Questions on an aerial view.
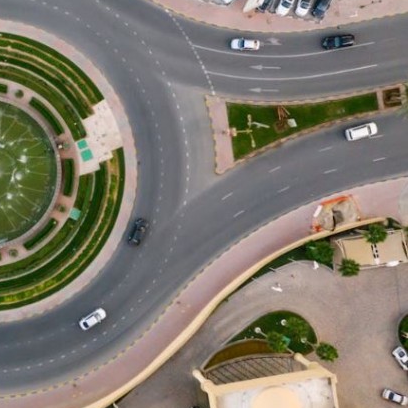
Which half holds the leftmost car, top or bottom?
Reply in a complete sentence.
Seen from above, the leftmost car lies in the bottom half of the view.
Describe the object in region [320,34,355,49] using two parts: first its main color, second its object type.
black car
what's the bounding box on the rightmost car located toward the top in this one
[342,122,377,140]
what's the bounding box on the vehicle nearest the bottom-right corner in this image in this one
[377,385,408,407]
